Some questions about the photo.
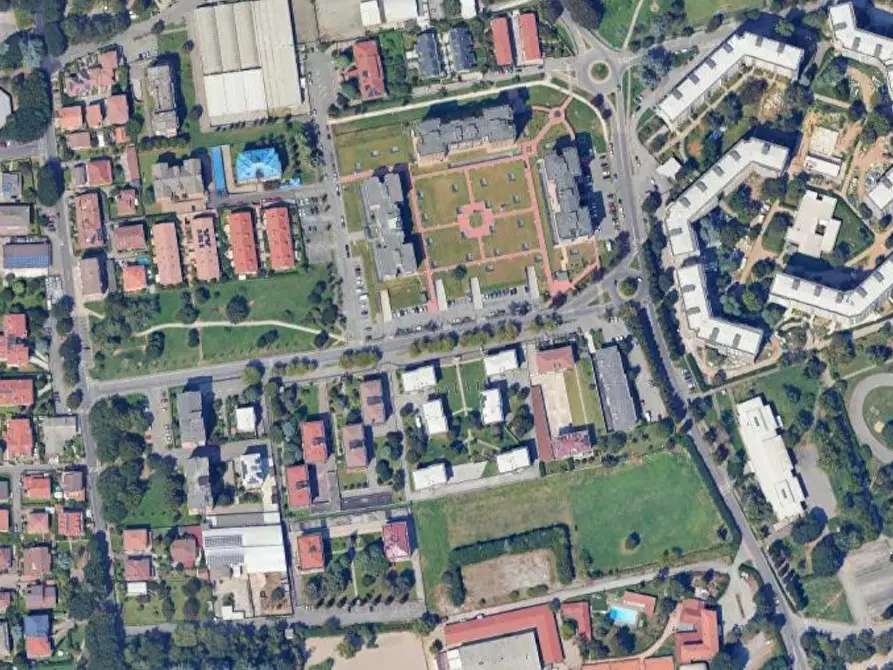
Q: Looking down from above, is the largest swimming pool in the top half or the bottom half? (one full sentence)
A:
The bottom half of the photo is where the largest swimming pool is.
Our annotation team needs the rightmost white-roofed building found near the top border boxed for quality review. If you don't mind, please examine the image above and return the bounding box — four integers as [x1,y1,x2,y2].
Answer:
[828,2,893,103]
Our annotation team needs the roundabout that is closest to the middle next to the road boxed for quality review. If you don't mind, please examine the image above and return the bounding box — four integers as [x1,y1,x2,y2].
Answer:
[609,266,648,305]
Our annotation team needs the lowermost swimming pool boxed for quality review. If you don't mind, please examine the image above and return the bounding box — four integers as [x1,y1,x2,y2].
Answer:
[606,603,639,626]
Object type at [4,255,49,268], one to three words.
solar panel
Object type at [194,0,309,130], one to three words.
warehouse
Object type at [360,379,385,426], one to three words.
house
